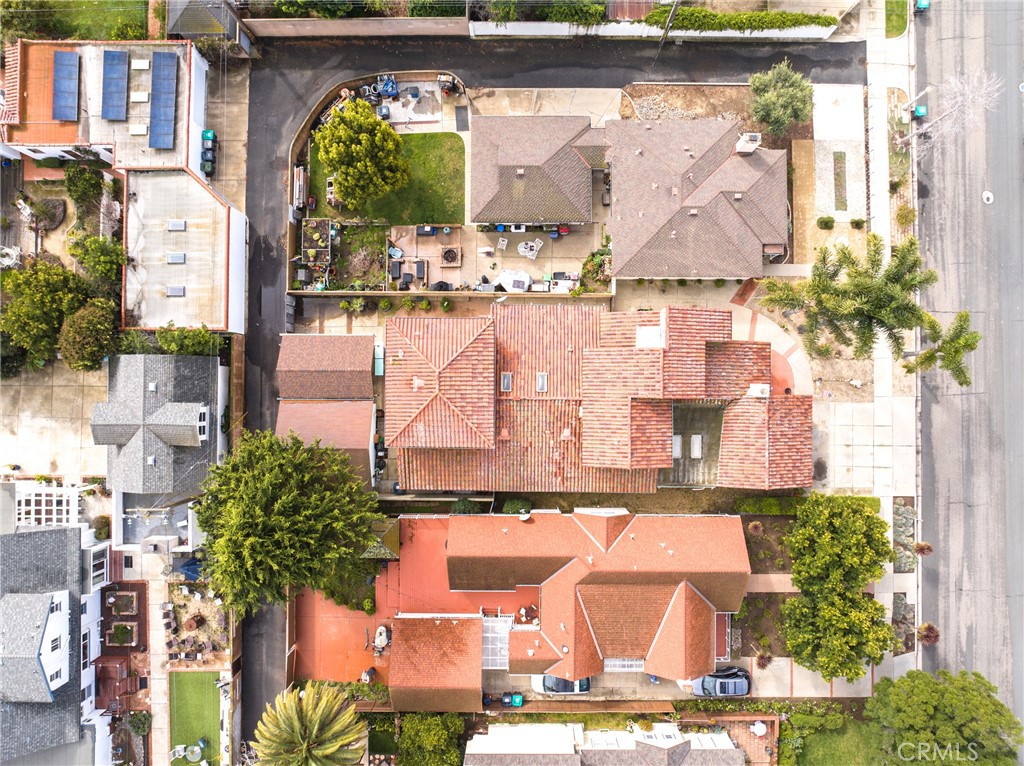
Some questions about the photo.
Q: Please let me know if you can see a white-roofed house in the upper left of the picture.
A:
Yes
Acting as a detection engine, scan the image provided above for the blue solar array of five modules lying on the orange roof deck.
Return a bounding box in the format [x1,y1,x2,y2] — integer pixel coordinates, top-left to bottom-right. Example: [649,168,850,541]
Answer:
[53,50,78,121]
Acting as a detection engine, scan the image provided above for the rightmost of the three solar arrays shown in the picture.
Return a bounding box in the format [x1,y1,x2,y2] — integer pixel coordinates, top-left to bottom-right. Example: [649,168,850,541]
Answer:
[149,51,177,149]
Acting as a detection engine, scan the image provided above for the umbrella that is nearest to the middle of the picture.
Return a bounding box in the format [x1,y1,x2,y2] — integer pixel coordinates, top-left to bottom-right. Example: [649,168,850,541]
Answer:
[497,263,527,297]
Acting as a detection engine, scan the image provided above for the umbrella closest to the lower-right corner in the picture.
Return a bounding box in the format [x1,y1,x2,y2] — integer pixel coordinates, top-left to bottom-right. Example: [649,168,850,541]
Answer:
[752,719,765,735]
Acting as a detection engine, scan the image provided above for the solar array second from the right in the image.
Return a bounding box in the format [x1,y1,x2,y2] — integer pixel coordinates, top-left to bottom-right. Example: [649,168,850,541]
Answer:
[102,49,128,121]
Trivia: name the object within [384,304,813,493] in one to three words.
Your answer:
house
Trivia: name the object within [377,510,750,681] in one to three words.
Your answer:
house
